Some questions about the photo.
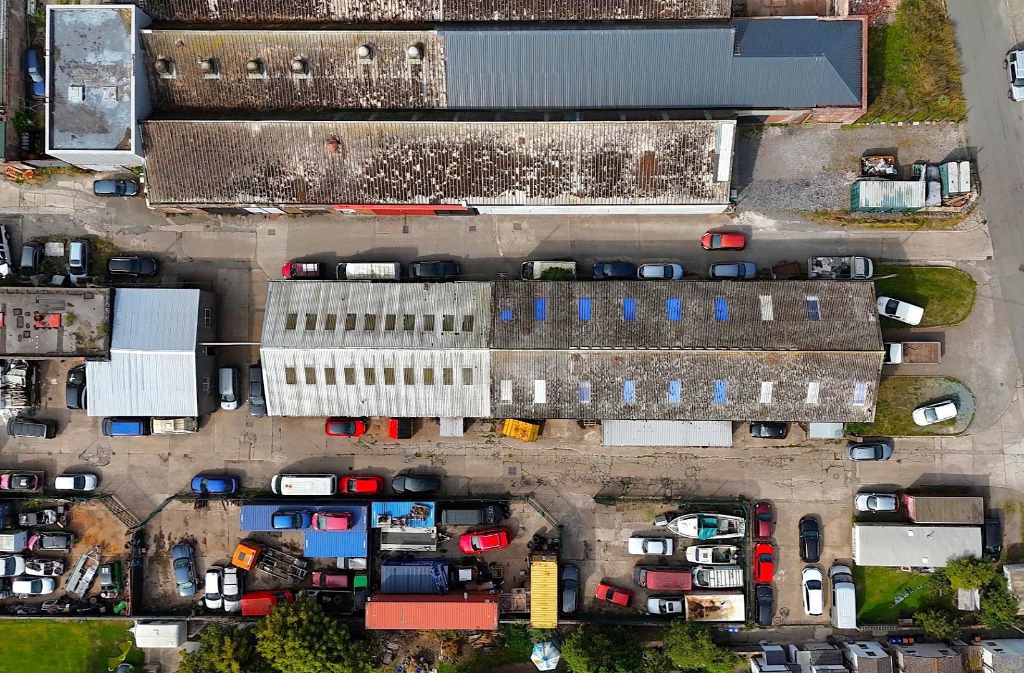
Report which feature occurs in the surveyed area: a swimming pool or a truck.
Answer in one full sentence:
This aerial view contains a truck.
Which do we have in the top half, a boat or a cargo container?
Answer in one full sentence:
What appears in the top half is a cargo container.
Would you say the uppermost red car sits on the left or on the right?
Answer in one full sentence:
It is on the right.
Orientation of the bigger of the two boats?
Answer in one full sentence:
From this overhead view, the bigger of the two boats appears to run from side to side.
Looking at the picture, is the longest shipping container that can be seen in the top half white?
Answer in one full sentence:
Yes, the longest shipping container that can be seen in the top half is white.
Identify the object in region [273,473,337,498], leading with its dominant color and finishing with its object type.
white vehicle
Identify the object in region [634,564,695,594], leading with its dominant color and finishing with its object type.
red van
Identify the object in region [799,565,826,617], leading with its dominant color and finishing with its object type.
white car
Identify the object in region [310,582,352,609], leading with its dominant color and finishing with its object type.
black truck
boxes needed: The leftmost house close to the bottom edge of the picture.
[747,639,792,673]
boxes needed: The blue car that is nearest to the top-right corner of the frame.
[708,258,756,279]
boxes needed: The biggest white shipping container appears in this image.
[846,181,927,213]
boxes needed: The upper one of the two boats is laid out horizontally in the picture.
[668,512,744,539]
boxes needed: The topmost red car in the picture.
[699,231,745,252]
